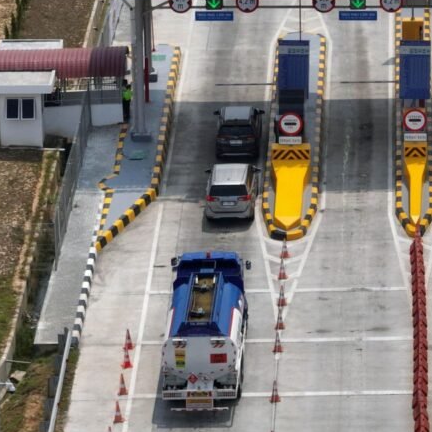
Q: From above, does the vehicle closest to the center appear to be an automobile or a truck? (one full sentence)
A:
The vehicle closest to the center is an automobile.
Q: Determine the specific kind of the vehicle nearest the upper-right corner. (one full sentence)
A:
What you see as the vehicle nearest the upper-right corner is a car.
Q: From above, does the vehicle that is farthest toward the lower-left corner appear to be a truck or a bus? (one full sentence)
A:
From above, the vehicle that is farthest toward the lower-left corner can be identified as a truck.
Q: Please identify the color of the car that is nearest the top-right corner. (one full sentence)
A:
From above, the car that is nearest the top-right corner appears black.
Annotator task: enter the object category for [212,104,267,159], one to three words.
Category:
car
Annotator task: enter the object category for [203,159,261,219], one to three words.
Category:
car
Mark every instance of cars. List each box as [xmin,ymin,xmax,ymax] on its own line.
[203,159,261,219]
[212,104,267,159]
